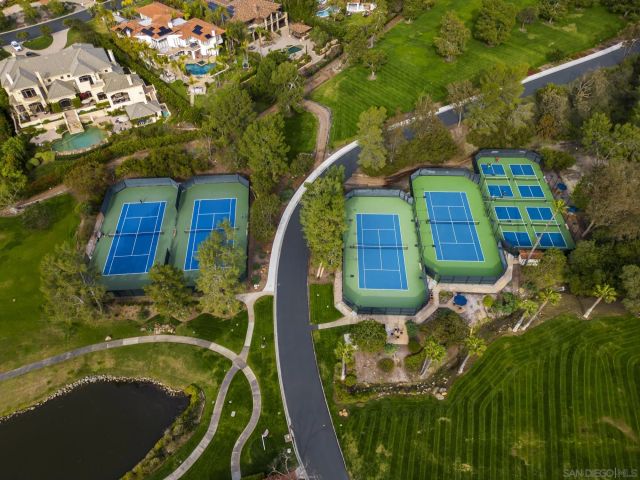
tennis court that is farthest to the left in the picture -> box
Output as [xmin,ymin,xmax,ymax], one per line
[89,186,179,298]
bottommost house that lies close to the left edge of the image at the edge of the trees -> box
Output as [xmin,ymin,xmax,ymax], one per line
[0,38,162,126]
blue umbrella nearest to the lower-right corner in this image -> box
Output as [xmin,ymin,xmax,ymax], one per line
[452,291,468,304]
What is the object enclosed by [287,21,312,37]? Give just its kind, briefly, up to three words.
gazebo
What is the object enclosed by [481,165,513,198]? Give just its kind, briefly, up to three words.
sports court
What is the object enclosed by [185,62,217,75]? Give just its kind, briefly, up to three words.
swimming pool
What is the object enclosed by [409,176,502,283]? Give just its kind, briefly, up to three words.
tennis court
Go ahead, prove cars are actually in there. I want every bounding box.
[24,50,38,56]
[10,42,21,50]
